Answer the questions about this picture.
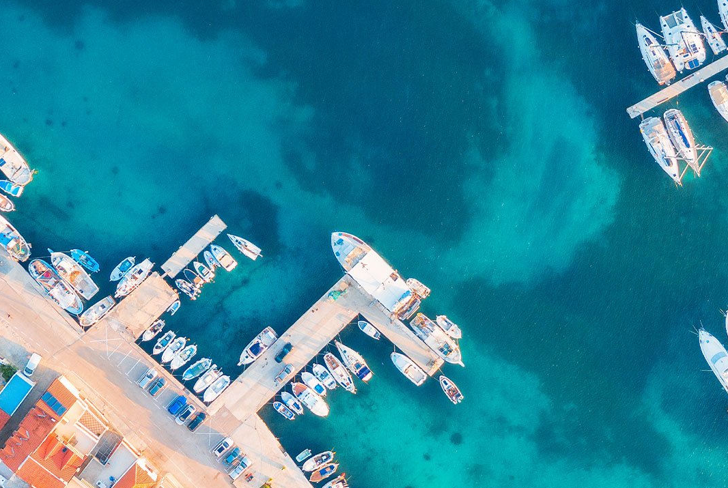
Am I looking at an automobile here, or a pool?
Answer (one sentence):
I can see an automobile in this picture.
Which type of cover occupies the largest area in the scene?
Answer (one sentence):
The scene is dominated by water.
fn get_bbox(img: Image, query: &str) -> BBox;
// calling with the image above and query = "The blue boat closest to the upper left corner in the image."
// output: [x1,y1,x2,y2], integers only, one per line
[0,179,25,197]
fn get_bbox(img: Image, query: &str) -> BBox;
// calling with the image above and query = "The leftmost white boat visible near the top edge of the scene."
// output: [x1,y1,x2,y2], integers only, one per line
[624,9,681,93]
